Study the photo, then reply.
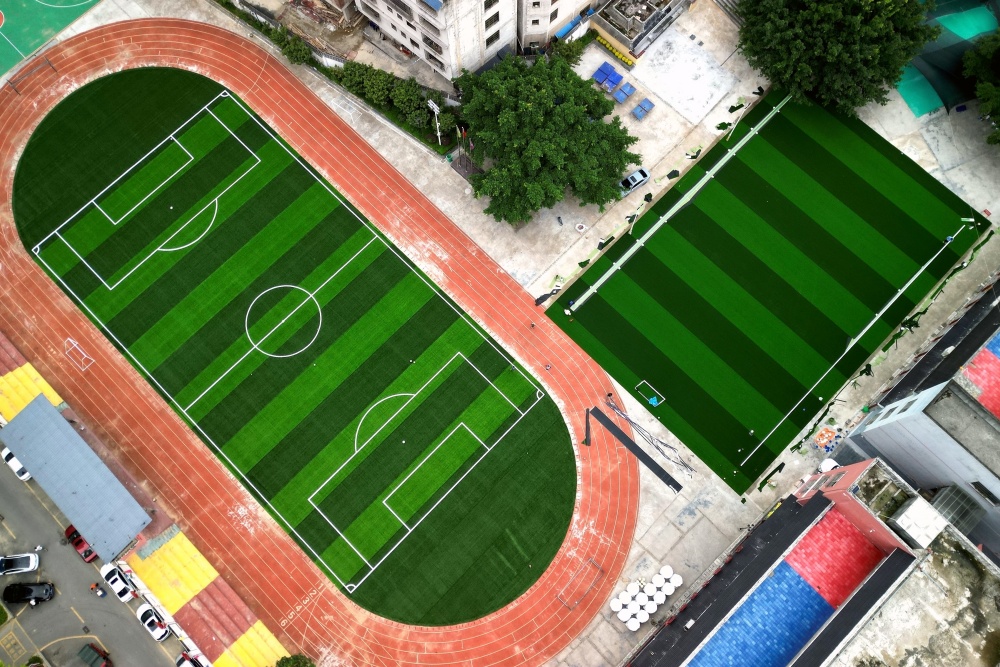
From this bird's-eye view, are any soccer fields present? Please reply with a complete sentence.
Yes, there's a soccer field down there.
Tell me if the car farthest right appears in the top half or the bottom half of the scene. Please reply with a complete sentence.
The car farthest right is in the top half of the image.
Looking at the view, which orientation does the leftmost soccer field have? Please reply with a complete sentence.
The leftmost soccer field is oriented diagonally.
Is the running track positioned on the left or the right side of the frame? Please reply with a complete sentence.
The running track sits on the left side.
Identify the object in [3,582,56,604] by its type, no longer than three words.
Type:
car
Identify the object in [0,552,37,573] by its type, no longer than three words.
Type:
car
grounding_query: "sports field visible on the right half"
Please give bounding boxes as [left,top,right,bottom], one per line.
[545,73,990,497]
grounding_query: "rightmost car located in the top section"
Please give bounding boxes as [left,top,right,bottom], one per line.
[618,164,649,195]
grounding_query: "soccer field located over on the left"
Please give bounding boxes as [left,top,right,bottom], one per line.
[10,61,578,626]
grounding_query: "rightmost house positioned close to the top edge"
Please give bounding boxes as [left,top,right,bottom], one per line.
[584,0,704,60]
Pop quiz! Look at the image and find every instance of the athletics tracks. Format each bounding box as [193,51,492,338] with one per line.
[0,17,641,667]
